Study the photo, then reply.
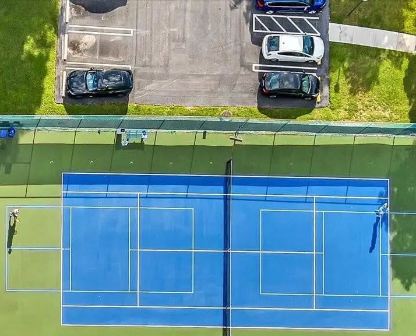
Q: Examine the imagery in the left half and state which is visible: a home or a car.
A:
car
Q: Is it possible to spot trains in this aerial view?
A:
No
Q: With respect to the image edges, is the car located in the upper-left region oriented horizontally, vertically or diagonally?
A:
horizontally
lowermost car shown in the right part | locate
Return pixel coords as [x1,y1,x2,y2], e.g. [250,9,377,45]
[265,69,323,100]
